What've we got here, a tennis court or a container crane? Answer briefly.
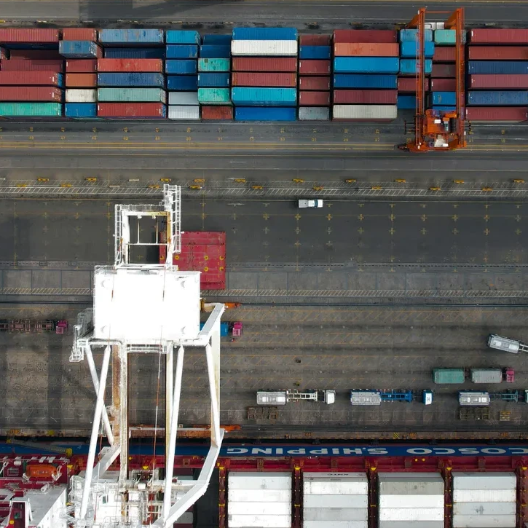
container crane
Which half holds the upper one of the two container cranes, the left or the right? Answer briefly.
right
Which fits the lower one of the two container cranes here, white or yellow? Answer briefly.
white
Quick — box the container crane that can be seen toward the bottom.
[60,179,244,528]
